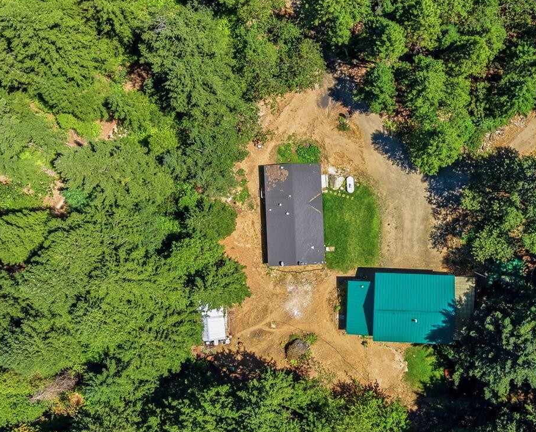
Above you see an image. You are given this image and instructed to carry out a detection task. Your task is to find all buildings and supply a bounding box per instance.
[346,272,475,345]
[264,162,326,267]
[203,306,231,344]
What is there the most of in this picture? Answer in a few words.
trees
